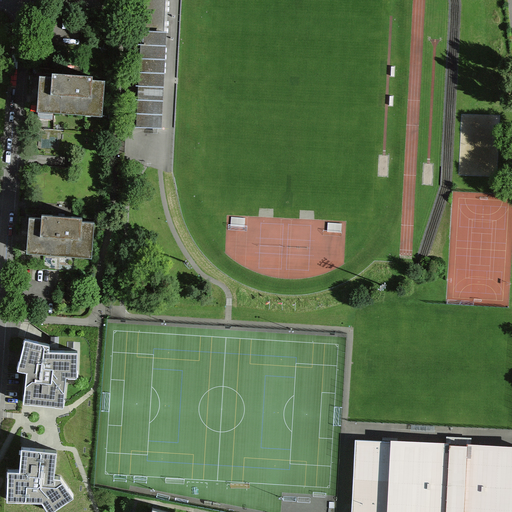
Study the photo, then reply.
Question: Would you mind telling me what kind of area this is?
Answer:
sports ground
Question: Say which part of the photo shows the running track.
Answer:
top right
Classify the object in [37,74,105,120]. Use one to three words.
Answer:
house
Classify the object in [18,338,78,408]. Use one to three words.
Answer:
building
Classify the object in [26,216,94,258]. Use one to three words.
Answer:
house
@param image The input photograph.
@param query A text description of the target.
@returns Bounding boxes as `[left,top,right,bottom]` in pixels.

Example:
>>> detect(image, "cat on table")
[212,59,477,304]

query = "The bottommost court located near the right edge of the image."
[446,192,512,308]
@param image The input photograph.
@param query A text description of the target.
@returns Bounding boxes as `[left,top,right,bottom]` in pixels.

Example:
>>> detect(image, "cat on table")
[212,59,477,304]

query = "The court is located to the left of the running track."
[225,215,346,280]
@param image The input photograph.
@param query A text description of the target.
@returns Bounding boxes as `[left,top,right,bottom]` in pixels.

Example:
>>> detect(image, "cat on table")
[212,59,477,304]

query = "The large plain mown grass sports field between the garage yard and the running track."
[174,0,448,296]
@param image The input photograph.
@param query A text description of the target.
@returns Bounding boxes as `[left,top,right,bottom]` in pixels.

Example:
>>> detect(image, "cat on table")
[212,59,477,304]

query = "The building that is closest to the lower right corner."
[350,436,512,512]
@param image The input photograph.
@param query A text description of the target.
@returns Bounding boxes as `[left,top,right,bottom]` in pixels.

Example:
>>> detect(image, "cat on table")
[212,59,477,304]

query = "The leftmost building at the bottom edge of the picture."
[6,447,74,512]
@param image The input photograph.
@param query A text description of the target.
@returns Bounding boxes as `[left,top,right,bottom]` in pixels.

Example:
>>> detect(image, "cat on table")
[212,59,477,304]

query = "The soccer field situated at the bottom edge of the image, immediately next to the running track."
[95,324,346,512]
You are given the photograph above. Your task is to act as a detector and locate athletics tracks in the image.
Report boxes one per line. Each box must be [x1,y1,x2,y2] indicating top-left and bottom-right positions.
[400,0,425,255]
